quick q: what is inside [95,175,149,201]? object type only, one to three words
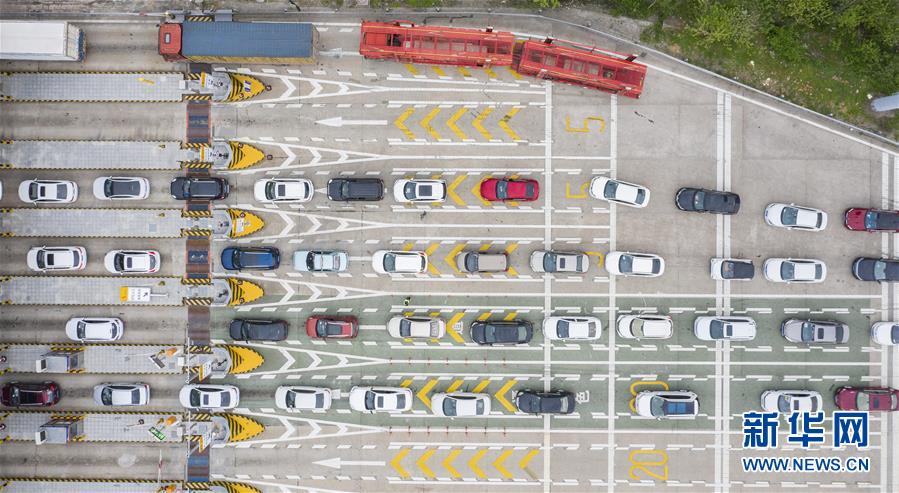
car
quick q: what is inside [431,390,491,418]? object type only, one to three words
car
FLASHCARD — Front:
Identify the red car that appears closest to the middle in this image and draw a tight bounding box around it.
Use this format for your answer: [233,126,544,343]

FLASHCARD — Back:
[480,176,539,204]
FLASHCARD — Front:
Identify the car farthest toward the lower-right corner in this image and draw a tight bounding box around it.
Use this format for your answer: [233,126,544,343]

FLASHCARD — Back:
[831,386,899,413]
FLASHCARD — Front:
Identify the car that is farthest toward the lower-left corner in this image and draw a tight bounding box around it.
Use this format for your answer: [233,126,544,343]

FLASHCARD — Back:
[1,381,61,409]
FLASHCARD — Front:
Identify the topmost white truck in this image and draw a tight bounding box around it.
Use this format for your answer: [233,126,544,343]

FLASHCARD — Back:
[0,25,87,64]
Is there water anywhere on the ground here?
No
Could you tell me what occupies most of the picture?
paved ground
